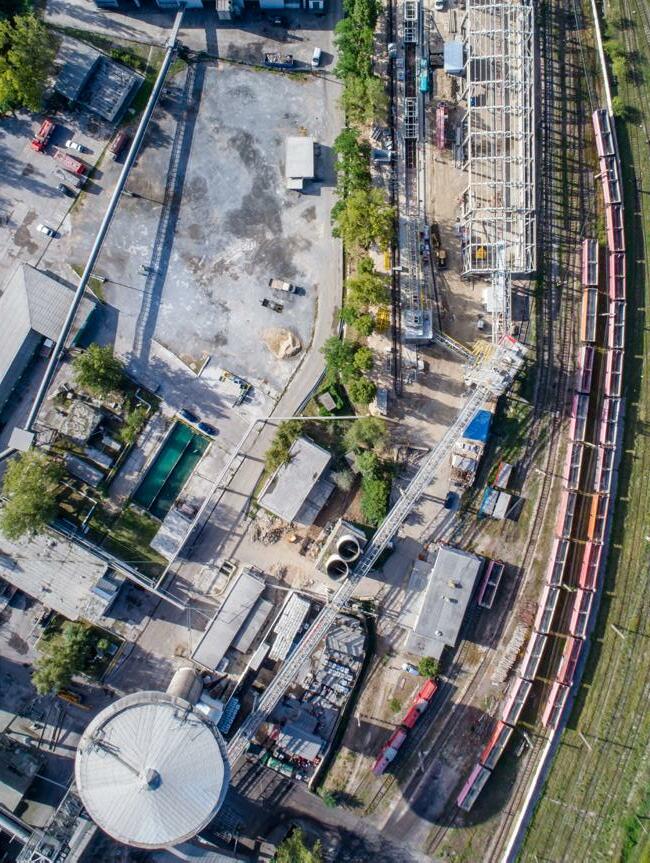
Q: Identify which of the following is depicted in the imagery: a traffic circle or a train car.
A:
train car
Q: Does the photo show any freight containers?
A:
Yes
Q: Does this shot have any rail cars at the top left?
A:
No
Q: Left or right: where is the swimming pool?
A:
left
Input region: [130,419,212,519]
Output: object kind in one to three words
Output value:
swimming pool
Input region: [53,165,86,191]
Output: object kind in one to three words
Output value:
truck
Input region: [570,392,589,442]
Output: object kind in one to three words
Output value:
rail car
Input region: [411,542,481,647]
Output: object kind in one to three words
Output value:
building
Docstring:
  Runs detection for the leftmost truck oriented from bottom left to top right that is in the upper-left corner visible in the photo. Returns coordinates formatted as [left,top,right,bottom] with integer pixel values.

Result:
[31,119,57,151]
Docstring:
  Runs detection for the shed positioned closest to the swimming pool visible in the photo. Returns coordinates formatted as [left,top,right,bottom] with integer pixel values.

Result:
[149,504,198,560]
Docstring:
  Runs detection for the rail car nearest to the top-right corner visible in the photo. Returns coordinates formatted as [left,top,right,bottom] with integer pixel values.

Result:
[593,109,615,158]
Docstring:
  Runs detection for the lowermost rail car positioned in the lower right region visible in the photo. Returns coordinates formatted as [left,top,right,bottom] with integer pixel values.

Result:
[458,761,492,812]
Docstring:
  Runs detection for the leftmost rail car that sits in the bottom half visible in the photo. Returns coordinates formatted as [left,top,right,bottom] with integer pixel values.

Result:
[372,722,407,775]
